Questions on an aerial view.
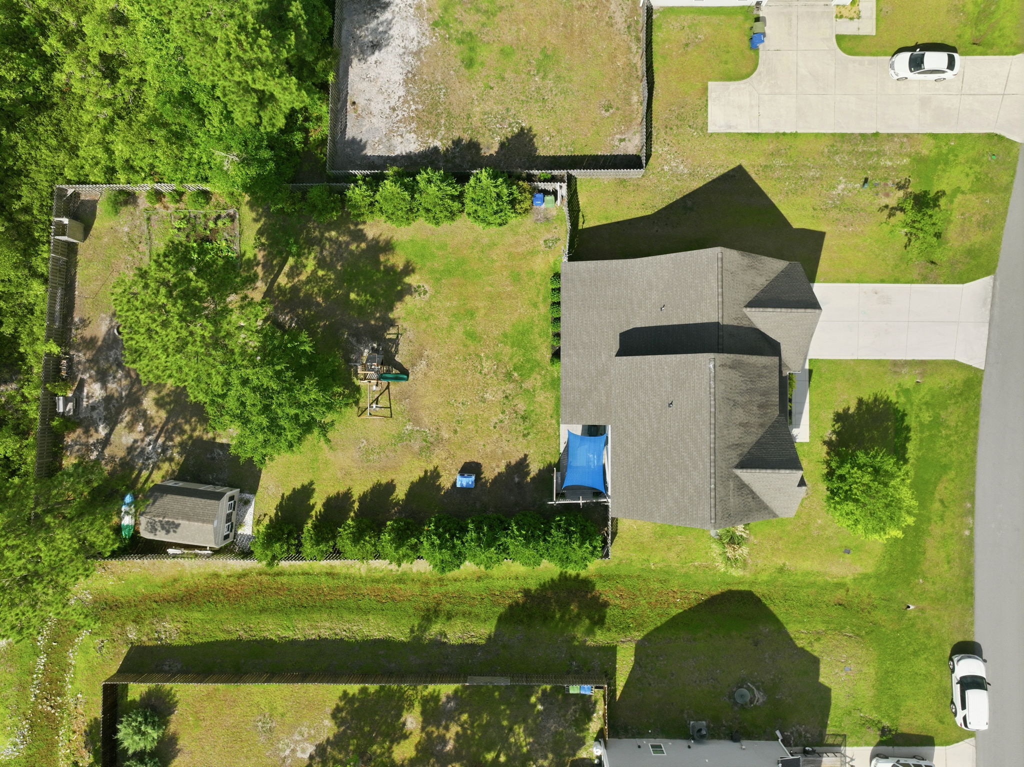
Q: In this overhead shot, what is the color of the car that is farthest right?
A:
white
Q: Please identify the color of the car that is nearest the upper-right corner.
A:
white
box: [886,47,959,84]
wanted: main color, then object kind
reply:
white car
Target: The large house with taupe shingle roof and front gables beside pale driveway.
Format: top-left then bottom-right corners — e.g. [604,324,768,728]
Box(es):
[560,248,821,529]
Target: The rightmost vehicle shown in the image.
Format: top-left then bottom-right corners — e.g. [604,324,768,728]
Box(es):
[947,651,989,728]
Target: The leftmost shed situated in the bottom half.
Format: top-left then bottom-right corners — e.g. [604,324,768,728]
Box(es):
[139,480,240,549]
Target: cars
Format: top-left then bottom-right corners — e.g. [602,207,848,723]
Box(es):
[869,753,940,767]
[886,47,959,84]
[947,651,989,728]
